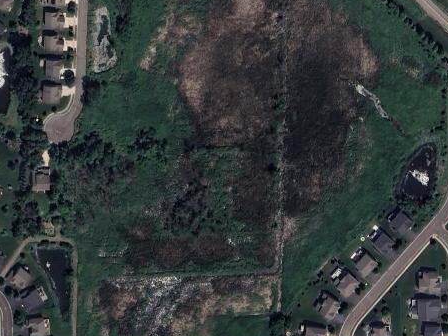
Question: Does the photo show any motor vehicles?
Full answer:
No, there's no motor vehicle here.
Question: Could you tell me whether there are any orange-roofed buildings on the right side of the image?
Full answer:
No, the scene shows no orange-roofed building on the right side of the image.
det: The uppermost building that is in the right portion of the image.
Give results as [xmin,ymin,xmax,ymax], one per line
[387,211,413,235]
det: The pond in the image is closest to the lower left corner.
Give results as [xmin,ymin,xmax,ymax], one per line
[35,247,74,323]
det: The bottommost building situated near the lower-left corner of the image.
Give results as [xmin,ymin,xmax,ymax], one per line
[26,318,52,336]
